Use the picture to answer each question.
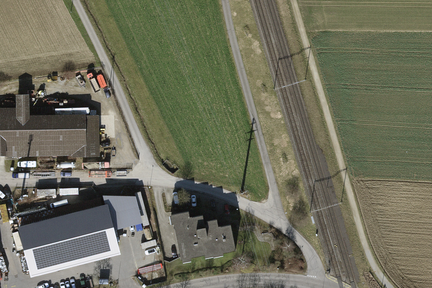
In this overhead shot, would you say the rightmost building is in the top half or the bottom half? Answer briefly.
bottom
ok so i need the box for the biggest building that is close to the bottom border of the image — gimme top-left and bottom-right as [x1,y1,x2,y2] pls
[18,204,120,278]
